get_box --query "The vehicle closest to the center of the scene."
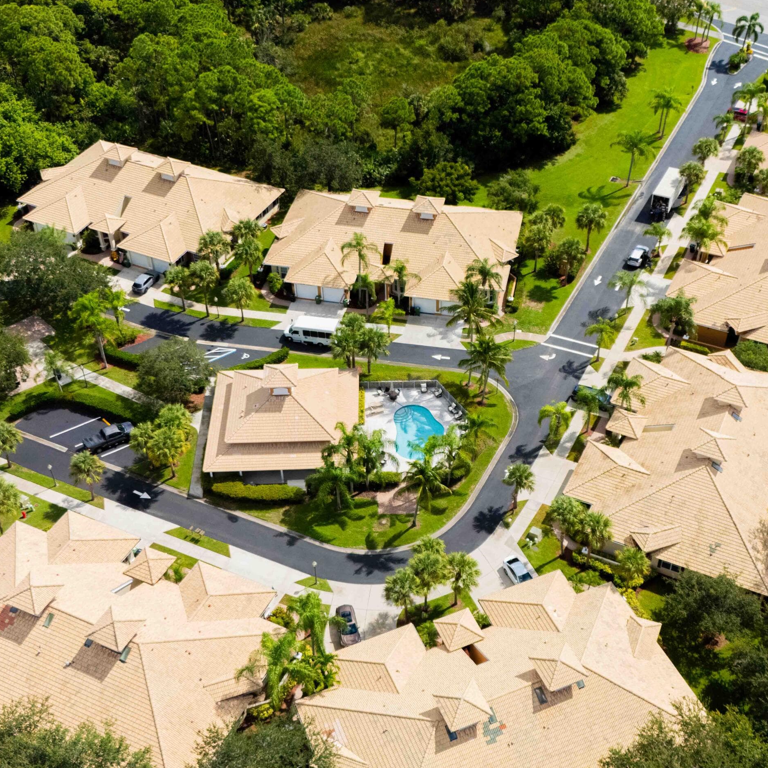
[284,315,339,344]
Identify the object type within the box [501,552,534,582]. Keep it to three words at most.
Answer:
car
